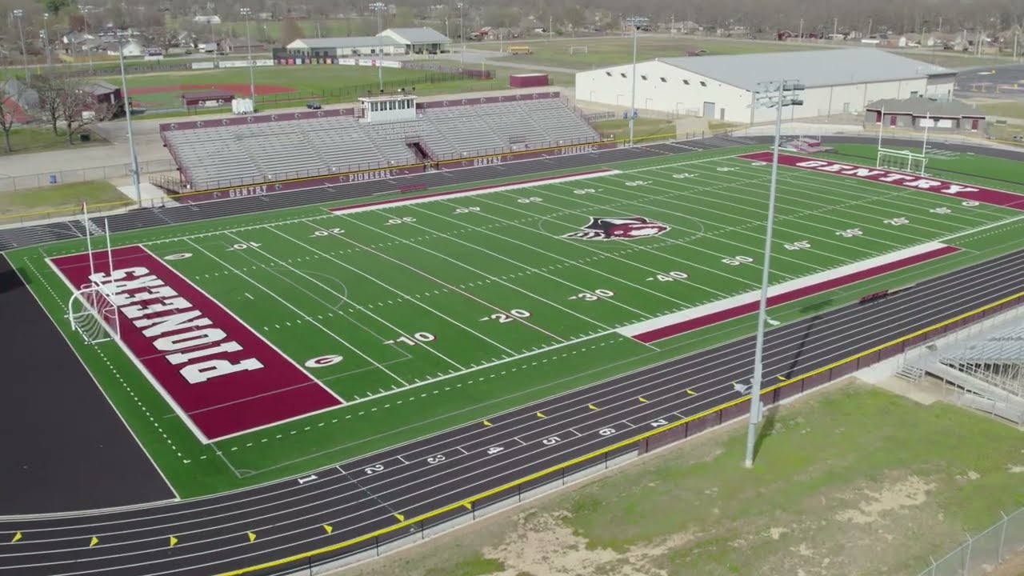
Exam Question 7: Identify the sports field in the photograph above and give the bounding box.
[512,38,852,67]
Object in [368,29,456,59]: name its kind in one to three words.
building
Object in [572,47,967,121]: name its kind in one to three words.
building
